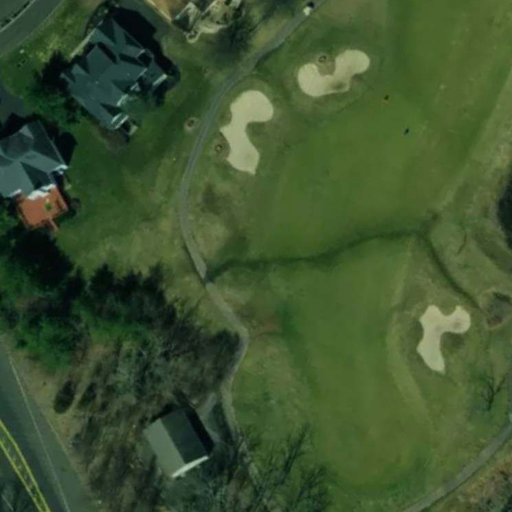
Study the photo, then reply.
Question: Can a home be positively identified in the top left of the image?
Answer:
Yes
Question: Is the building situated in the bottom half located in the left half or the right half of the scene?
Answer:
left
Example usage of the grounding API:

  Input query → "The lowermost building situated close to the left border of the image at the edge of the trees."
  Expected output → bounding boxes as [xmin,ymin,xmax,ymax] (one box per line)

[0,117,69,230]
